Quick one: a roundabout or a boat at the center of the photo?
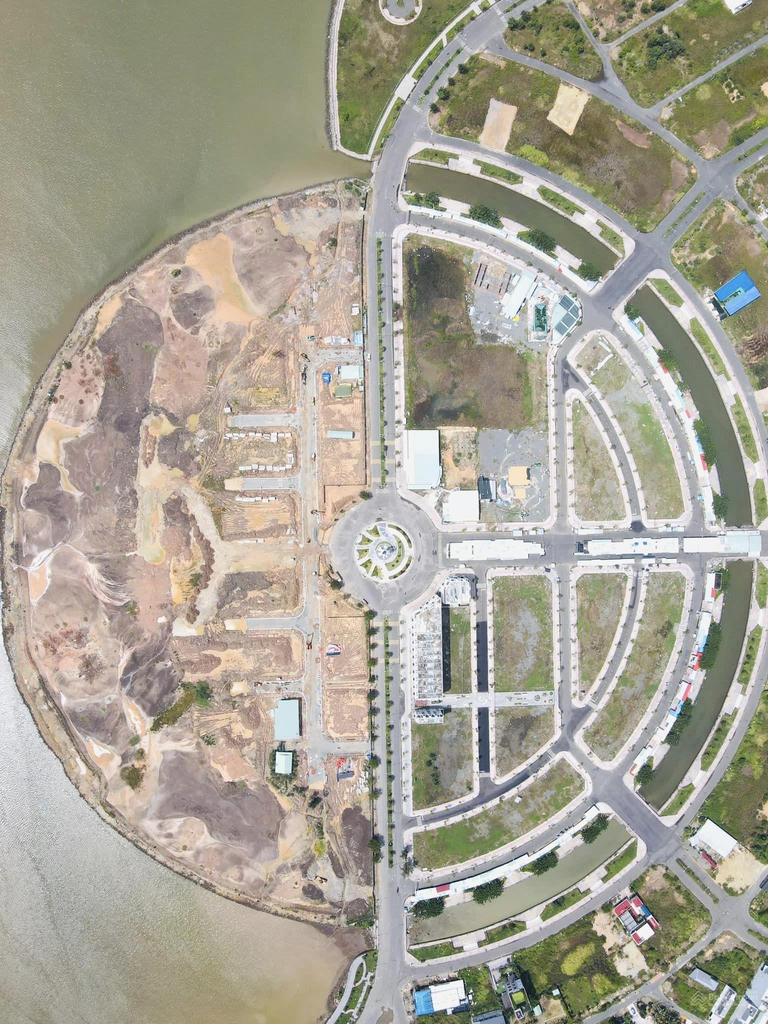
roundabout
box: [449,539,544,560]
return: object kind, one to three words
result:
building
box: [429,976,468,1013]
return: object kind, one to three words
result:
house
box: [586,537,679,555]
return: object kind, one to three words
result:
building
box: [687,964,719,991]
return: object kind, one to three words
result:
house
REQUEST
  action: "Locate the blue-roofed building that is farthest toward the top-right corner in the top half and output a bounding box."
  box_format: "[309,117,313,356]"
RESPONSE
[710,271,760,320]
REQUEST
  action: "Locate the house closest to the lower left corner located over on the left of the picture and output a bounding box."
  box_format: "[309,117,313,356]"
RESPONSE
[276,749,293,774]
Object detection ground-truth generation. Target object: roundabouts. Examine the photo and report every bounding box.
[328,496,440,608]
